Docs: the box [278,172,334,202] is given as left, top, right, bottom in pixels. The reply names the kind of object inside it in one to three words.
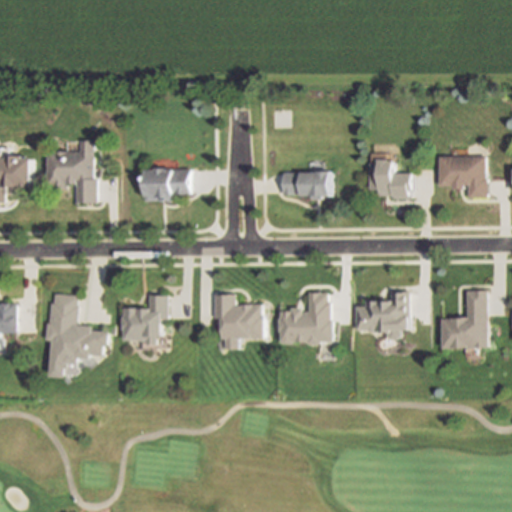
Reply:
house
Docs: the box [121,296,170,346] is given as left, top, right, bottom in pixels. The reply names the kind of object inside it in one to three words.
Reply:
house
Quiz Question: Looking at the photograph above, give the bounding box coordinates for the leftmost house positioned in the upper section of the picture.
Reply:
[0,154,30,205]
